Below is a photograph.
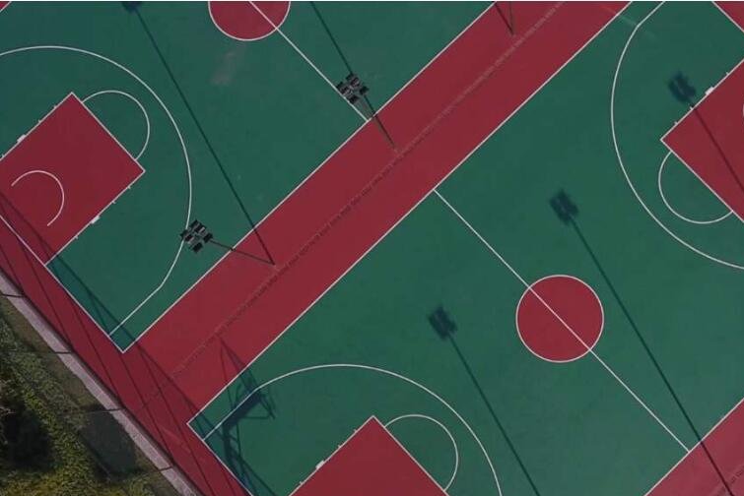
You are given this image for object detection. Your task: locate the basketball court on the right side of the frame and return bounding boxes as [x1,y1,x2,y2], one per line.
[188,0,744,496]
